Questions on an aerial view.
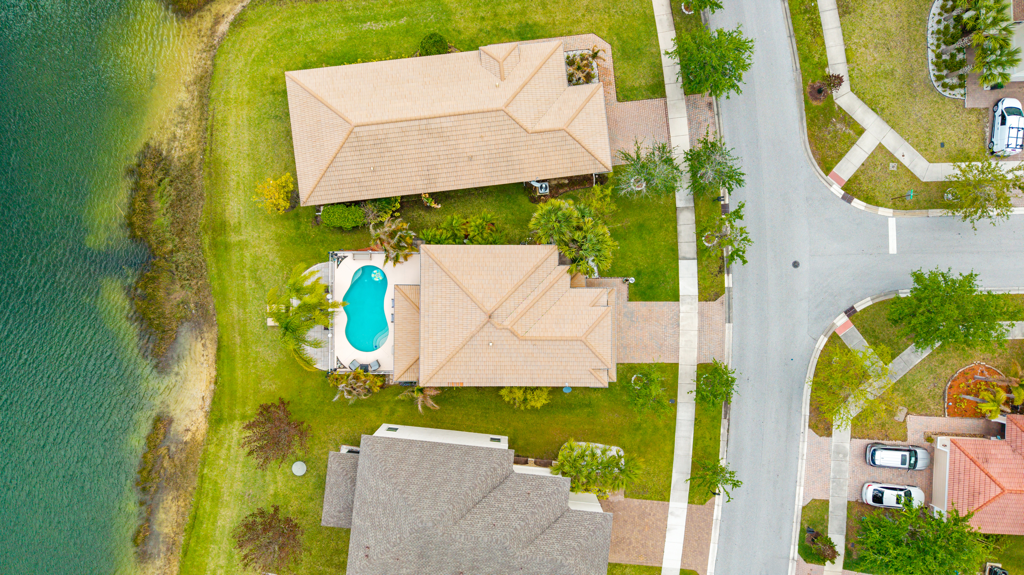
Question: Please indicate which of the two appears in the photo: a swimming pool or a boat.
swimming pool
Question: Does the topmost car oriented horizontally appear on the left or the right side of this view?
right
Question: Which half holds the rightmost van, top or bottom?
top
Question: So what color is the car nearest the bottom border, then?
white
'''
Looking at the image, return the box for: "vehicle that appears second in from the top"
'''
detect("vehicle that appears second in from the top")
[862,440,930,474]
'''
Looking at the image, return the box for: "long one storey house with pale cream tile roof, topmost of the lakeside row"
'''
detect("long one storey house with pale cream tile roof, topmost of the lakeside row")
[284,39,613,207]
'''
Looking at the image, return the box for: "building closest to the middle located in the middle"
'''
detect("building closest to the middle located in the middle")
[392,243,617,389]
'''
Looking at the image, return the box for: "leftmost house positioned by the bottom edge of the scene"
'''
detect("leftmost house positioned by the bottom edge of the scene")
[320,425,614,575]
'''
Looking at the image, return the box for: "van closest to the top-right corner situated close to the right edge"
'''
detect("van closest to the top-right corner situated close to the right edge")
[992,97,1024,157]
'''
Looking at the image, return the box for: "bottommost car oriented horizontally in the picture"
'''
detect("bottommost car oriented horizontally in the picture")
[859,479,924,512]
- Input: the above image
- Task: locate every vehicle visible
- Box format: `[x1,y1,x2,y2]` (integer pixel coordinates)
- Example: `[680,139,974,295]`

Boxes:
[992,97,1024,157]
[862,440,930,474]
[859,479,924,512]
